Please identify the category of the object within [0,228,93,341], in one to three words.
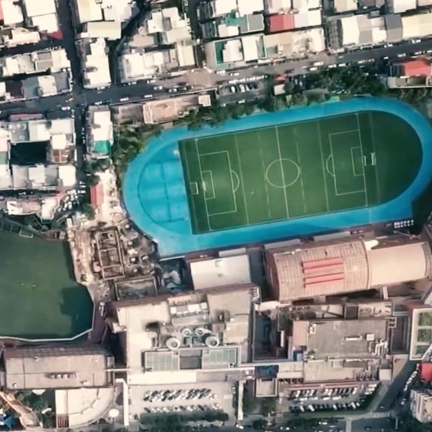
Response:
sports field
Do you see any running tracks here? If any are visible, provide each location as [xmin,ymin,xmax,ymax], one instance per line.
[123,97,432,256]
